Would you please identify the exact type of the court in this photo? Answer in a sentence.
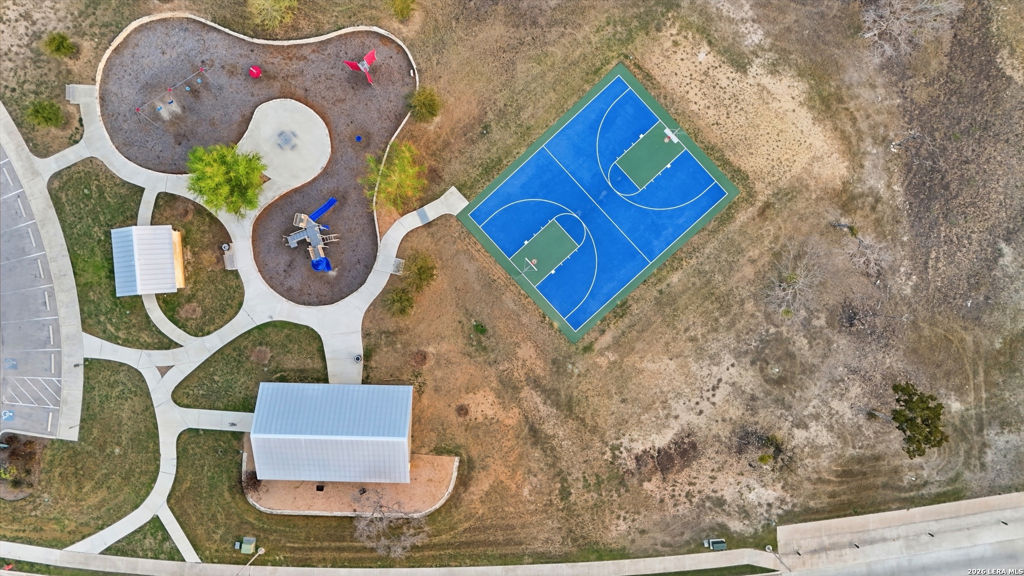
I'd identify the court as a basketball court.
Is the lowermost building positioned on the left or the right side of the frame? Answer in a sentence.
The lowermost building appears in the left half of the scene.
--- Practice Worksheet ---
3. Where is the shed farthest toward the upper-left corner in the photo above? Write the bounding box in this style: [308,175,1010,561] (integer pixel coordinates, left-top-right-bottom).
[111,224,188,297]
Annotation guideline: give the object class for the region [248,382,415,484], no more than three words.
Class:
building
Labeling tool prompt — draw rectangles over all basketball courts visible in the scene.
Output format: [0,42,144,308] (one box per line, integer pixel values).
[459,62,740,343]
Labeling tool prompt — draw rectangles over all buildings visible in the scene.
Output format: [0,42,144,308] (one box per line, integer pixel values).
[248,382,415,484]
[111,224,188,297]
